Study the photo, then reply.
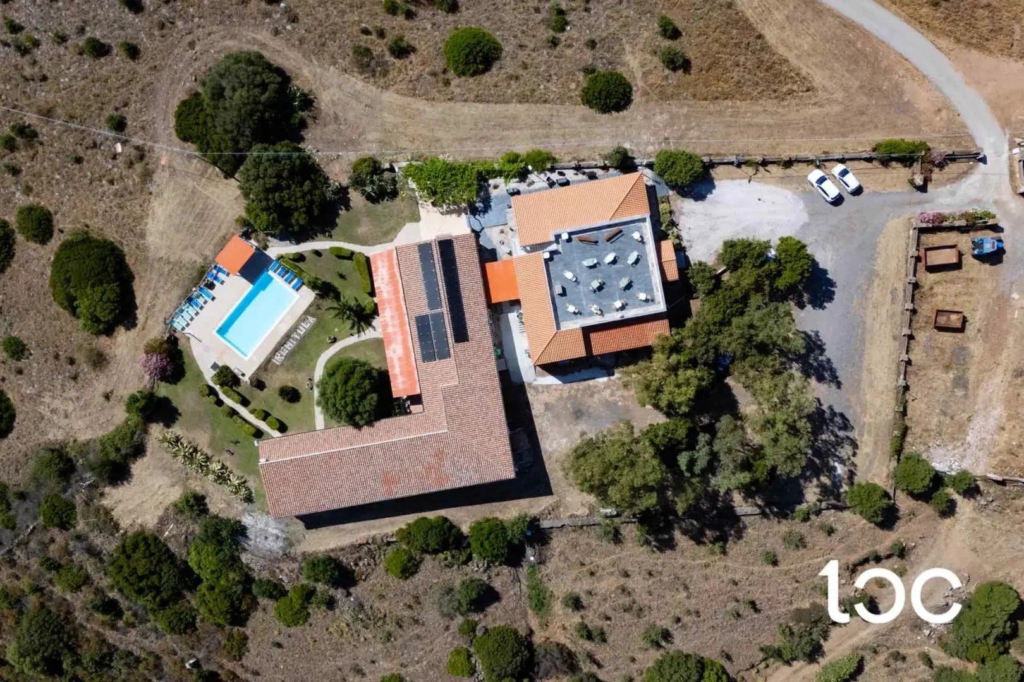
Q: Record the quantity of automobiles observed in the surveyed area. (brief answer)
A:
2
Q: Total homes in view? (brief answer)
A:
two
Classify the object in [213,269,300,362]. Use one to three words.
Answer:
swimming pool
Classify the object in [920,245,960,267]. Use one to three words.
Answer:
trailer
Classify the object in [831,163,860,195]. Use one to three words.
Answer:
car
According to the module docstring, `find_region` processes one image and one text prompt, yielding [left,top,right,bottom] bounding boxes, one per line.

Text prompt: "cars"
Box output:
[807,168,841,205]
[831,163,860,195]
